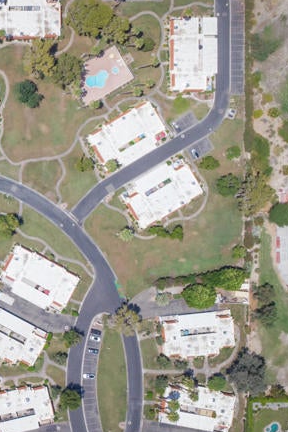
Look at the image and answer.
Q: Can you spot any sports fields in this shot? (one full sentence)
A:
No, no sports field is visible in the view.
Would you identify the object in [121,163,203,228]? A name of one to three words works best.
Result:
building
